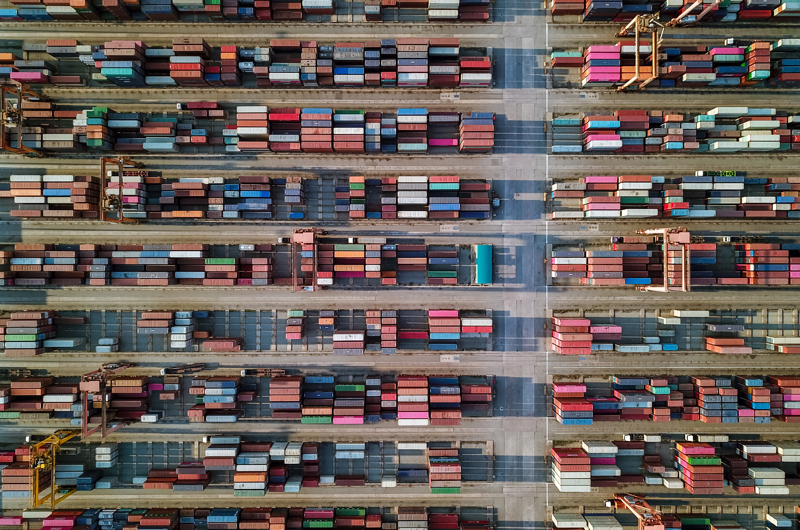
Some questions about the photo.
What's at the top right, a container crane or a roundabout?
container crane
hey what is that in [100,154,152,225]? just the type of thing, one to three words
container crane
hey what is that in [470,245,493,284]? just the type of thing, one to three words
shed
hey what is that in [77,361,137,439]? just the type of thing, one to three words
container crane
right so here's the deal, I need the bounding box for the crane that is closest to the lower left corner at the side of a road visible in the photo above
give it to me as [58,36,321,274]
[32,427,91,511]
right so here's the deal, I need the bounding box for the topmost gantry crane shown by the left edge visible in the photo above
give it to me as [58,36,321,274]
[0,81,60,159]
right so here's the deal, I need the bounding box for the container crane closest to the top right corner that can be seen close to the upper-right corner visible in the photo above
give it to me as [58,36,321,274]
[661,0,723,28]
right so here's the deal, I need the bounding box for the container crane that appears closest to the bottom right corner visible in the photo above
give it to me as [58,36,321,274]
[612,492,669,530]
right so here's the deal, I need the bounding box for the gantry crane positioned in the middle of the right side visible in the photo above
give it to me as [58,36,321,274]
[634,227,691,294]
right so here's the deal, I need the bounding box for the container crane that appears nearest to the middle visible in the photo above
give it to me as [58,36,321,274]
[292,227,329,294]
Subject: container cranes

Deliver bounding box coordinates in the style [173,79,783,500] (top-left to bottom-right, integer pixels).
[608,9,664,94]
[292,227,329,294]
[634,227,691,294]
[661,0,723,28]
[0,81,60,159]
[77,361,137,439]
[612,492,669,530]
[100,154,152,225]
[32,427,91,511]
